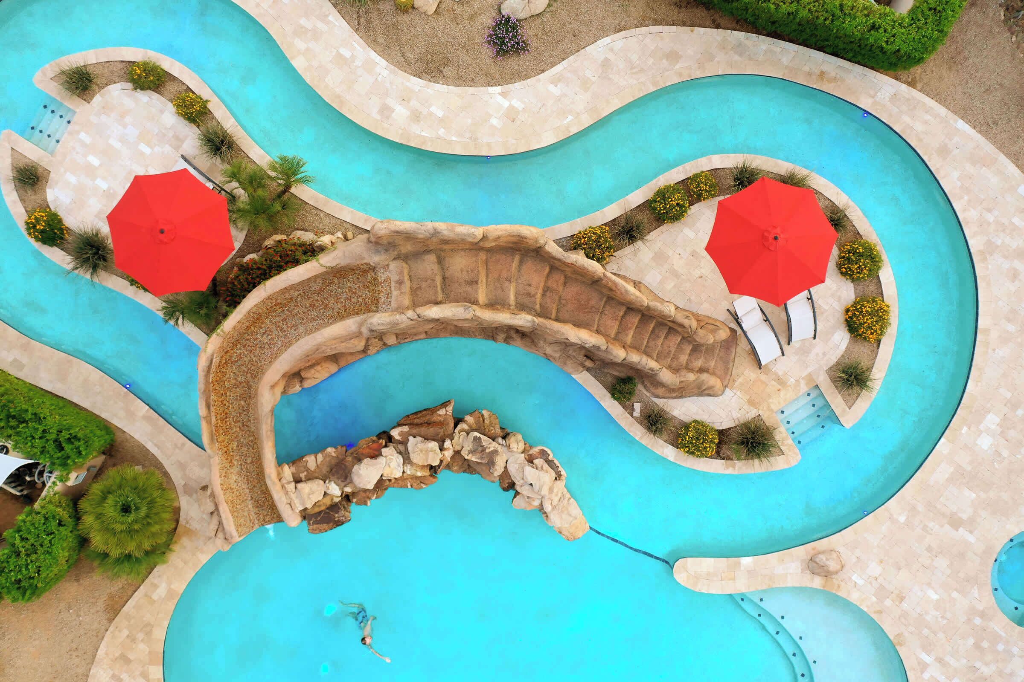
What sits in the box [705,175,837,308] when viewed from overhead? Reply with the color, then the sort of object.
red umbrella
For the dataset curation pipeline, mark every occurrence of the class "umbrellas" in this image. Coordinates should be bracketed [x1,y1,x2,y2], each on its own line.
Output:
[106,168,236,297]
[705,175,837,308]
